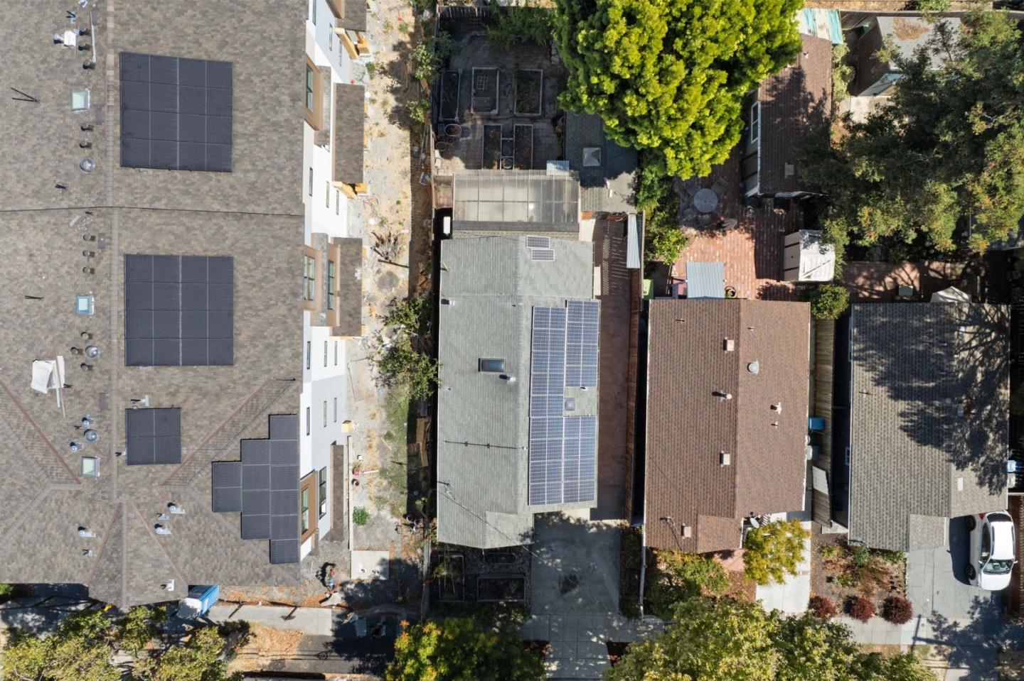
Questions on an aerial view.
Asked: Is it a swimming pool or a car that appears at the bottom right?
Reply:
car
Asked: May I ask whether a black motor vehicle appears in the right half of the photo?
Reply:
No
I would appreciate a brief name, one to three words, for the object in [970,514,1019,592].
car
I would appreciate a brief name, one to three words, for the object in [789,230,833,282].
shed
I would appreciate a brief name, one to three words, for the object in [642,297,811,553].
house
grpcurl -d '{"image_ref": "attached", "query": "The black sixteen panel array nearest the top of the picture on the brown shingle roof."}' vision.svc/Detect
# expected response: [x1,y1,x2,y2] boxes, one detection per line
[121,53,234,171]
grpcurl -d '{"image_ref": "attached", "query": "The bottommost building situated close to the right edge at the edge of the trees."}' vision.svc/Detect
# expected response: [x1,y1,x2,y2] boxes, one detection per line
[832,303,1012,553]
